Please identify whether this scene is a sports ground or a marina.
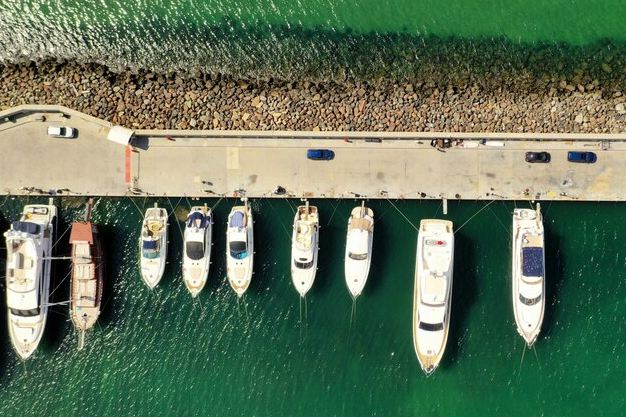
marina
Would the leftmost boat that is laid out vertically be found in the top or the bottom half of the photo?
bottom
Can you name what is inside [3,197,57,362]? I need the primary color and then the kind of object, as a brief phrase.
white boat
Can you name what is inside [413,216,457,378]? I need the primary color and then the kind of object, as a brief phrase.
white boat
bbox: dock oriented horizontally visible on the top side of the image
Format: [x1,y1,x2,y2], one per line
[0,114,626,202]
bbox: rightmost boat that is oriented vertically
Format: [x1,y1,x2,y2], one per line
[510,203,550,350]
